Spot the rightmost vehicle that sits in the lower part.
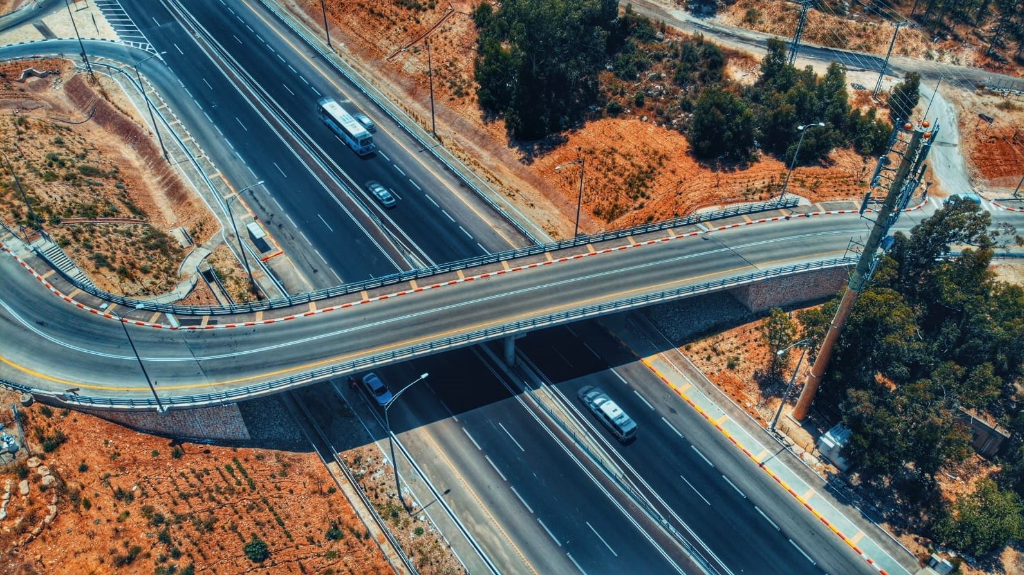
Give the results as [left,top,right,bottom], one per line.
[581,395,634,444]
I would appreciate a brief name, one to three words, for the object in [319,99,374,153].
bus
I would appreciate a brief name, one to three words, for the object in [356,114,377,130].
car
